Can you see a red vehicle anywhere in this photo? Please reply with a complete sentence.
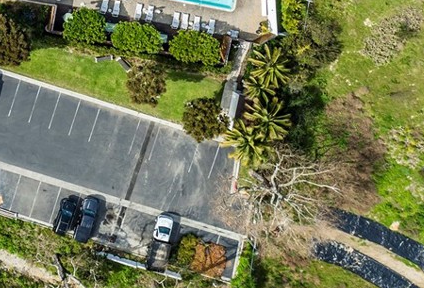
No, I find no red vehicle anywhere in the image.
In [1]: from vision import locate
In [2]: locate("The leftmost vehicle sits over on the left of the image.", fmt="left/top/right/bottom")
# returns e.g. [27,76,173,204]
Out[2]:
[54,195,80,239]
